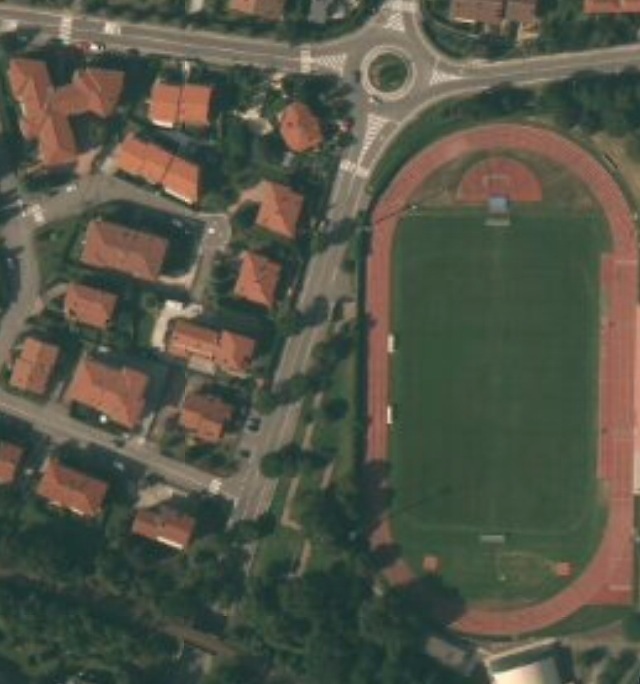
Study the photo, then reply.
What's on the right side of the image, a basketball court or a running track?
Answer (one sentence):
It is a running track that can be seen on the right side of the image.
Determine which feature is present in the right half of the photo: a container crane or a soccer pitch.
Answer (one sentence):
What appears in the right half of the photo is a soccer pitch.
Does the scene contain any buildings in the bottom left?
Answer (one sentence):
Yes, a building appears in the bottom left.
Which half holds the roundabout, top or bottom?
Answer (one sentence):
The roundabout is in the top half of the image.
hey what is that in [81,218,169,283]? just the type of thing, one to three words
house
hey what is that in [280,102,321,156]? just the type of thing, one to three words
house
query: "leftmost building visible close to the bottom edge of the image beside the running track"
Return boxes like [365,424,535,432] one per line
[420,637,467,672]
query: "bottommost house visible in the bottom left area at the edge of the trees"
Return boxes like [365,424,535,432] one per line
[132,507,196,554]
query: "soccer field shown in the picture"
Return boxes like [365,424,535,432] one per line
[387,146,615,612]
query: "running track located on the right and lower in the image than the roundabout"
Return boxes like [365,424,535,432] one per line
[365,124,637,634]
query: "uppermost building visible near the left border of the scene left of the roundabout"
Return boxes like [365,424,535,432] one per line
[10,59,124,166]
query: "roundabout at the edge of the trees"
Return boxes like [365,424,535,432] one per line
[302,0,490,169]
